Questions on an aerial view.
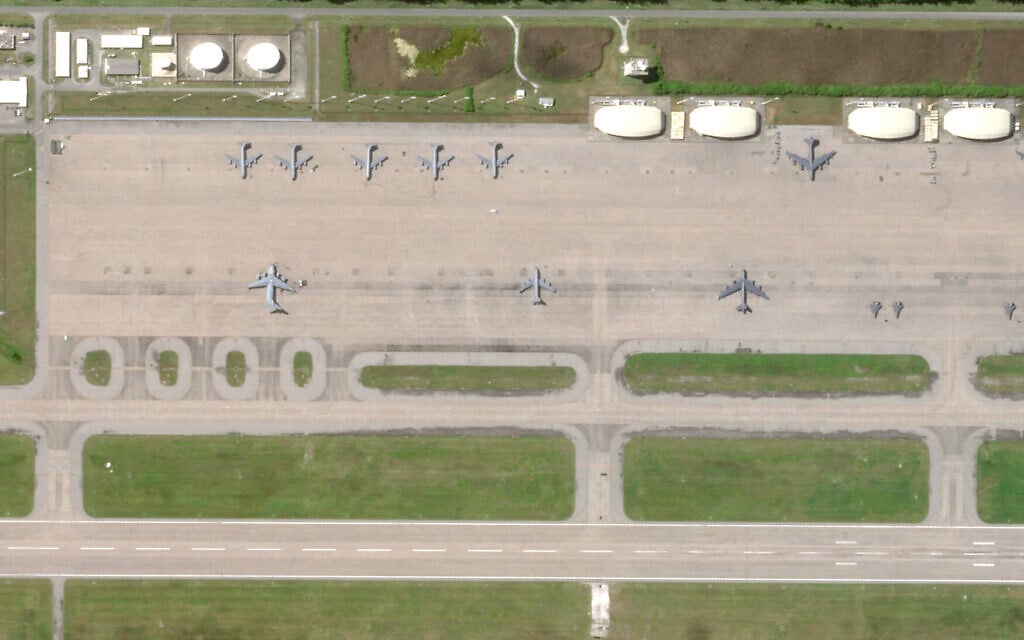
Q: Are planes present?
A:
Yes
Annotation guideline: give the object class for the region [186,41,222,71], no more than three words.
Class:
storage tank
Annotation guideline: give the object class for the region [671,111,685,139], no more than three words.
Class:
building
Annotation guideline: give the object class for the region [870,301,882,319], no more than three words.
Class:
airplane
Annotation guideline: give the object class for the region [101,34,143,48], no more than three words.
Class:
building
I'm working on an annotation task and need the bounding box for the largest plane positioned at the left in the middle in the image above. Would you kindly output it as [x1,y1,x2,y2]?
[249,264,296,309]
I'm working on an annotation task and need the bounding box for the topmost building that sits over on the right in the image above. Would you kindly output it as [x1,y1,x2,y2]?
[624,57,649,75]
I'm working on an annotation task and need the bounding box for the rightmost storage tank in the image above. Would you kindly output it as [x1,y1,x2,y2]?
[243,41,280,77]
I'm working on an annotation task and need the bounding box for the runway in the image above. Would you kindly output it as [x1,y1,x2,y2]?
[0,521,1024,582]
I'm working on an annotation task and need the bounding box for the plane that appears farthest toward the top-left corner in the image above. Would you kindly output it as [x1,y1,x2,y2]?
[225,141,261,178]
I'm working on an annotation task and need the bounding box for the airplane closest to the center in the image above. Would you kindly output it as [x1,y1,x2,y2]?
[519,267,556,304]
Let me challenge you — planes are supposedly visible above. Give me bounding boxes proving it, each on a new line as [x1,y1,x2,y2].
[275,142,311,180]
[870,301,882,319]
[249,264,296,309]
[893,301,904,319]
[225,141,261,178]
[1005,302,1017,320]
[350,142,387,180]
[417,142,453,180]
[519,267,556,304]
[786,136,837,181]
[476,141,513,179]
[718,270,769,313]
